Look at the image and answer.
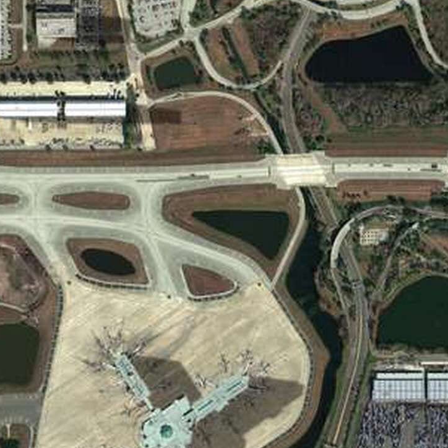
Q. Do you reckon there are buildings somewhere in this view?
Yes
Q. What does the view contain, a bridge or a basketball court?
bridge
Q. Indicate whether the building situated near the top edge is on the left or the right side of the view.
left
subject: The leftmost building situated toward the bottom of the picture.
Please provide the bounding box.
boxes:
[103,341,259,448]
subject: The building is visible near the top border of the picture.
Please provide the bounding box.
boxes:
[36,13,77,37]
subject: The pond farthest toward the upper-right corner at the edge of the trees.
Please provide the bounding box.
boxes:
[305,27,433,86]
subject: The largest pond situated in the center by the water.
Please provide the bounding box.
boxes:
[193,211,290,259]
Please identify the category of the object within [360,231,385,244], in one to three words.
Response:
building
